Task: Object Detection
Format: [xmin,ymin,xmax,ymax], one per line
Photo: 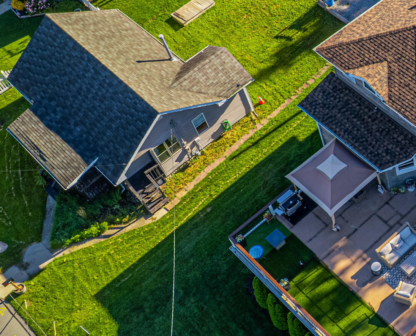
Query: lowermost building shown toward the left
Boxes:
[6,9,271,219]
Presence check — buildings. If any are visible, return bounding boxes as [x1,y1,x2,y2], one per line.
[296,0,416,189]
[6,9,271,219]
